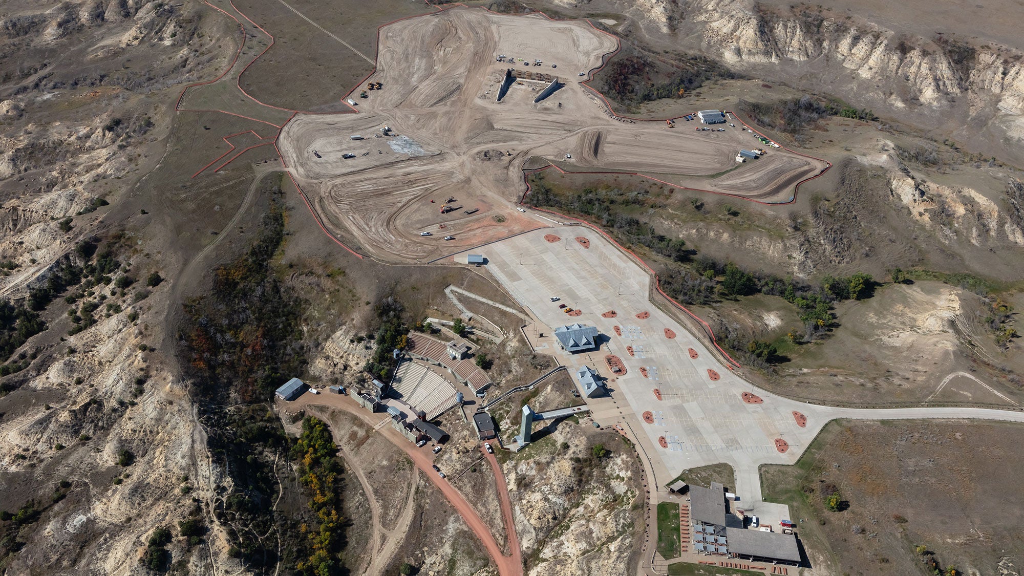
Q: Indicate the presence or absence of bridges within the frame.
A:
Yes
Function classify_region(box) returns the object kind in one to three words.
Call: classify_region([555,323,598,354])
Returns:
building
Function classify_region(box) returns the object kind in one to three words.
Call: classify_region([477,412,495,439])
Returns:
building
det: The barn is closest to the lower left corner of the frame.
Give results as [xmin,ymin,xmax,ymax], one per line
[275,376,305,401]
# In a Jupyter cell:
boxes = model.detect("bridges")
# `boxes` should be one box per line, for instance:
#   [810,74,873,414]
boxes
[531,404,591,441]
